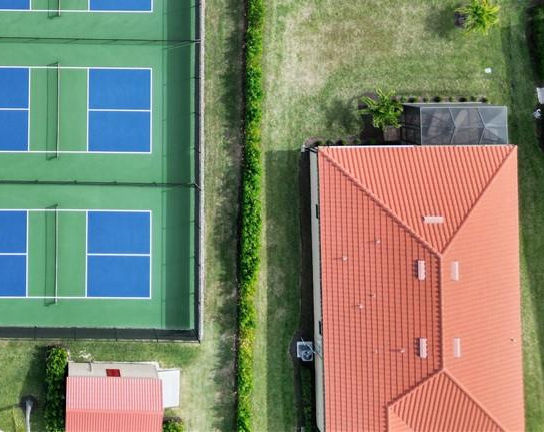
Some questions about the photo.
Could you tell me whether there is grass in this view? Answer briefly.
Yes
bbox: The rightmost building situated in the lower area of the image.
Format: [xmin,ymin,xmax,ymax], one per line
[308,143,526,432]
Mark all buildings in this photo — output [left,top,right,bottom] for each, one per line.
[66,363,164,431]
[308,143,526,432]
